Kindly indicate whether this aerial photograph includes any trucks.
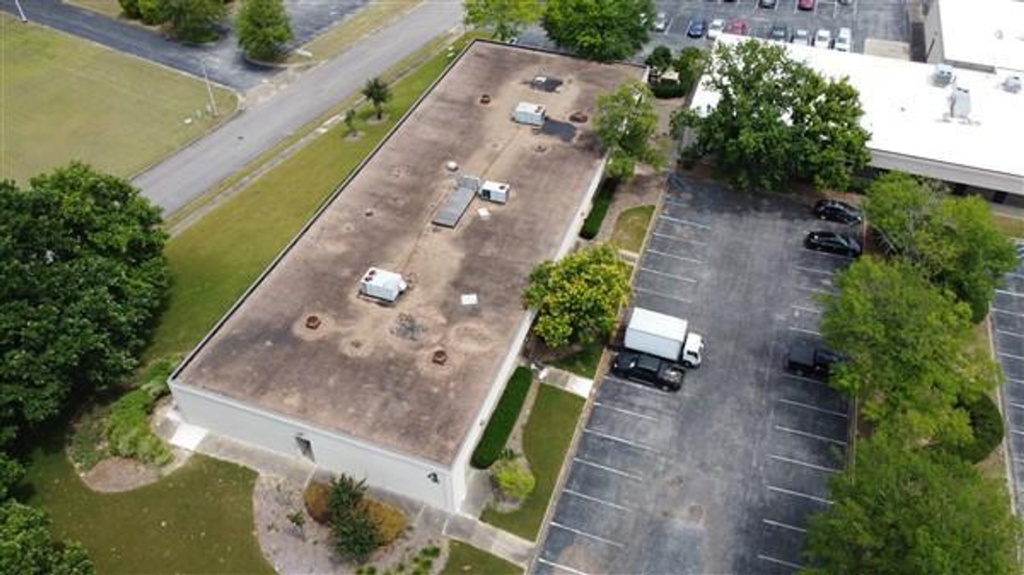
Yes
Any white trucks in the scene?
Yes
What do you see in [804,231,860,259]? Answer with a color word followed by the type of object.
black car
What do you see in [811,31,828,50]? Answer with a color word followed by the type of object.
white car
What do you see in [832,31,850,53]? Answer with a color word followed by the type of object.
white car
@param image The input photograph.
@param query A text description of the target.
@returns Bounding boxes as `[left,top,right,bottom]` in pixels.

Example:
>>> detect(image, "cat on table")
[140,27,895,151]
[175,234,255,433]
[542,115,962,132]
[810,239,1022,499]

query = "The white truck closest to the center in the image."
[623,307,709,373]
